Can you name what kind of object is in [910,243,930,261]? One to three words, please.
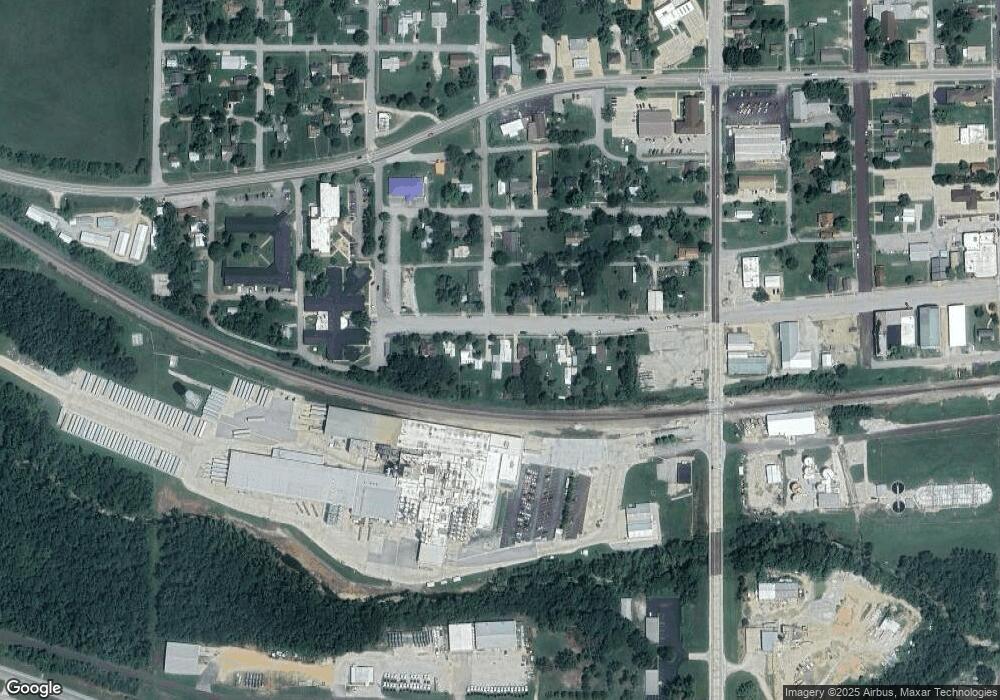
building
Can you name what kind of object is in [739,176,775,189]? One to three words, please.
building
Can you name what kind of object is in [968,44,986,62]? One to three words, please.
house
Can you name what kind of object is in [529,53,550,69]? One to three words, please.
house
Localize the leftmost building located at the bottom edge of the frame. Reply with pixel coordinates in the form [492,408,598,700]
[165,642,199,675]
